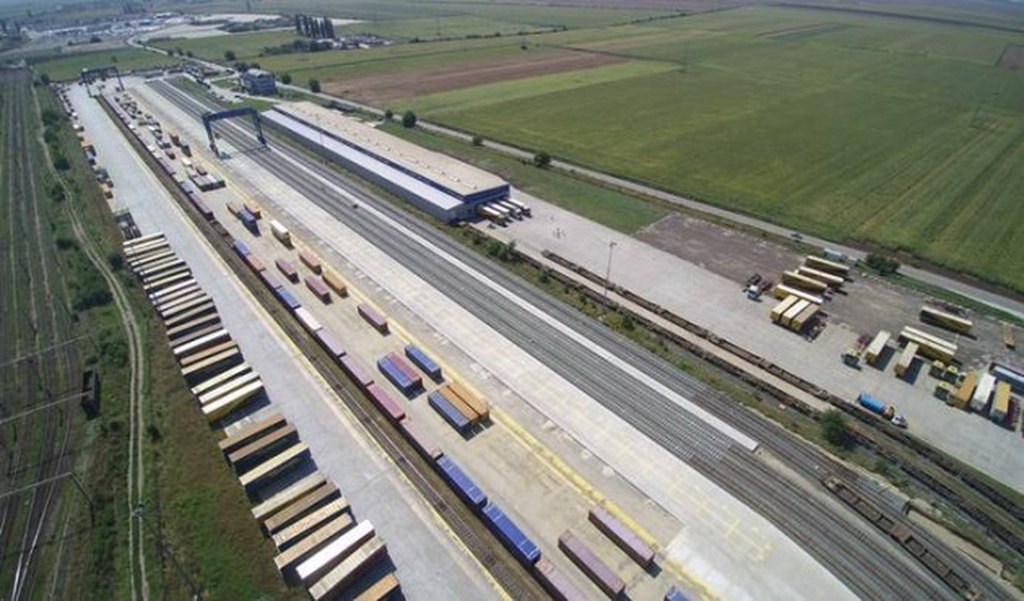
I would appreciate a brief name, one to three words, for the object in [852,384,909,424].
truck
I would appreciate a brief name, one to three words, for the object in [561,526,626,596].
shipping container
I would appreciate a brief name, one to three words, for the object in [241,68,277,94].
building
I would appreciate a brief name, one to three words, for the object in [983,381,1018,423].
trailer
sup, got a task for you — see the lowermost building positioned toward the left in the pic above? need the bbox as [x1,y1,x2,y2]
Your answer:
[263,99,507,220]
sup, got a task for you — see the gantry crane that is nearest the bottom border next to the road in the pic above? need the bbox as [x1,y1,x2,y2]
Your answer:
[198,106,269,157]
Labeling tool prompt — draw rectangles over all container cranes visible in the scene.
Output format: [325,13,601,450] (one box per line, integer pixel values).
[198,106,269,157]
[80,66,128,96]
